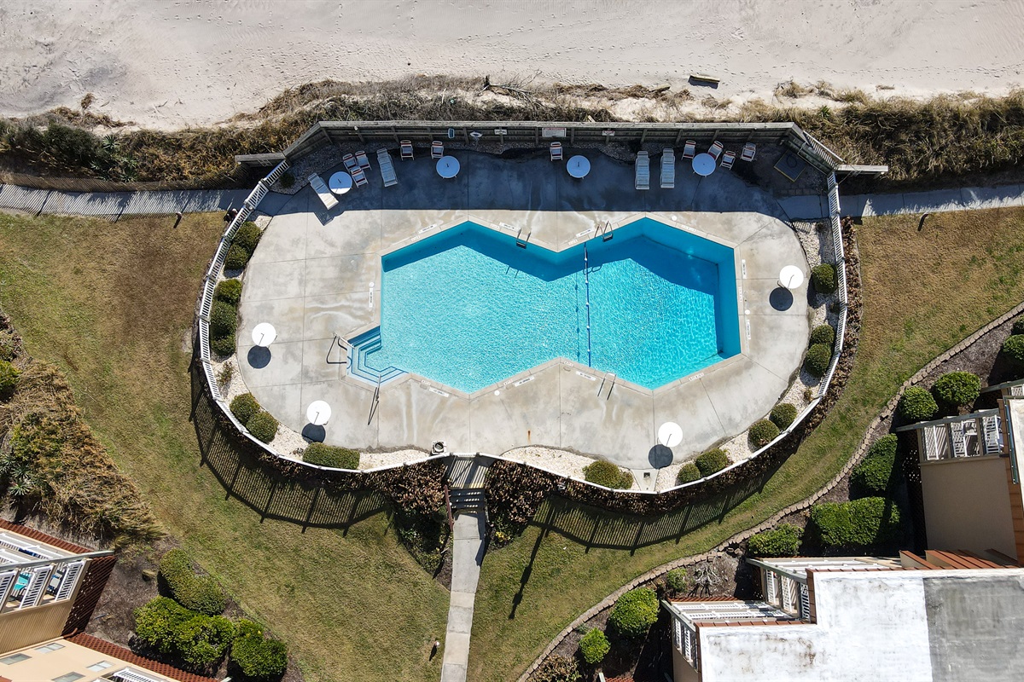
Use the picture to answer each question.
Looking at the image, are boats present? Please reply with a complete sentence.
No, no boat can be seen from above.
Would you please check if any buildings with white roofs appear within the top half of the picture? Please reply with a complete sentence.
No, there is no building with a white roof within the top half of the picture.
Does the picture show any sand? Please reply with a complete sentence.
Yes, sand shows up in the scene.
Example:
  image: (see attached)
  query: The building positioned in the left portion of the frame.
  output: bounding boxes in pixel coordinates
[0,519,230,682]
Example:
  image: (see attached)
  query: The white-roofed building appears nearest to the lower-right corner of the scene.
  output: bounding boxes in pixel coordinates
[598,380,1024,682]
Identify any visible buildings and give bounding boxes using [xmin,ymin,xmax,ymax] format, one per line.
[0,519,230,682]
[598,380,1024,682]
